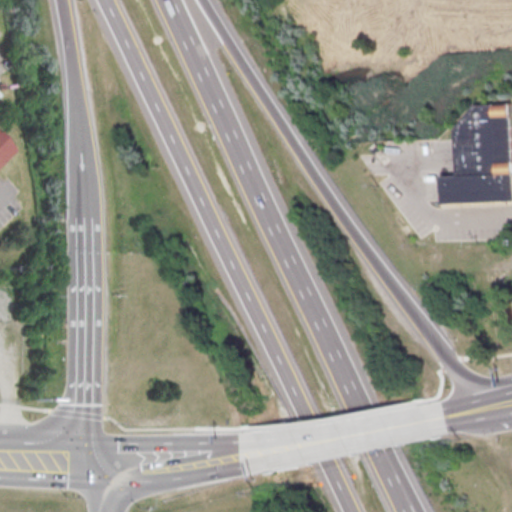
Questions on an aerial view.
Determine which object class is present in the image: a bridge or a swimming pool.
bridge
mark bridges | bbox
[238,398,448,477]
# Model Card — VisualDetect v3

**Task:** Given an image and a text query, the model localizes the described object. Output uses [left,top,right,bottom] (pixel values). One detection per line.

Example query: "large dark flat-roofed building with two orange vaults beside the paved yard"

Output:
[438,102,512,209]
